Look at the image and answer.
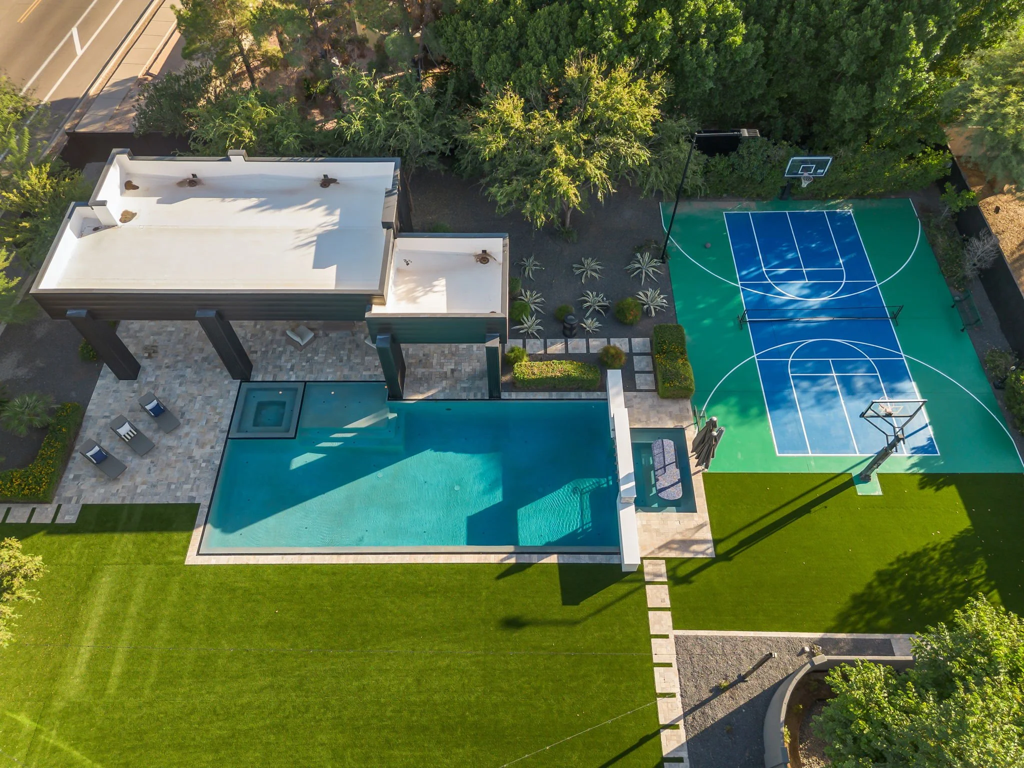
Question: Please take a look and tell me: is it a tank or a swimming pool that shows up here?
swimming pool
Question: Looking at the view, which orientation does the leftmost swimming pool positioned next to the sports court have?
from left to right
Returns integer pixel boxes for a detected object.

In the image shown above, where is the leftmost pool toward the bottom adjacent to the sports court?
[197,380,621,555]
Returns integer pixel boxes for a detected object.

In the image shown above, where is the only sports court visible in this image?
[660,194,1024,495]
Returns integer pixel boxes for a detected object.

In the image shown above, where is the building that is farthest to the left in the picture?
[30,147,509,398]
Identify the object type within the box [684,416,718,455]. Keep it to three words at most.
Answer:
umbrella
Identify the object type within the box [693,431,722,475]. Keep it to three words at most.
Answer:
umbrella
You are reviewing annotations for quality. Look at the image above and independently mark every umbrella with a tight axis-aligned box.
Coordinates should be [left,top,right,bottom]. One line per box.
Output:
[684,416,718,455]
[693,431,722,475]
